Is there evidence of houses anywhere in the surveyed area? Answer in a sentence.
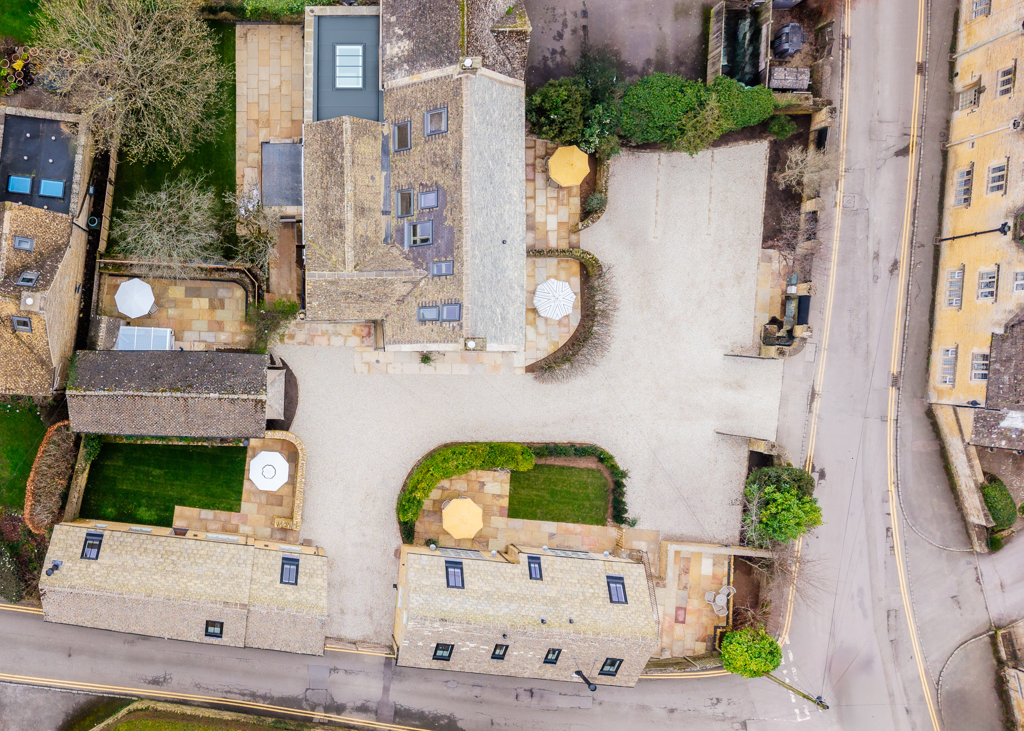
Yes, a house appears in the view.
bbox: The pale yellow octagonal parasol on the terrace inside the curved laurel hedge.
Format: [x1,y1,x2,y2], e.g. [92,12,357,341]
[443,499,481,537]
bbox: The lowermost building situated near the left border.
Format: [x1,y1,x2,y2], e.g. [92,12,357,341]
[39,519,328,658]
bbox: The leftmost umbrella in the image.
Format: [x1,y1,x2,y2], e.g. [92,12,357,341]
[115,278,155,318]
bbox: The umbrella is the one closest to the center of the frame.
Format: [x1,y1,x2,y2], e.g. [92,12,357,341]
[533,279,575,320]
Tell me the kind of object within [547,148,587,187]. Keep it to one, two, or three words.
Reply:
umbrella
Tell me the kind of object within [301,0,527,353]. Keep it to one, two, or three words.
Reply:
house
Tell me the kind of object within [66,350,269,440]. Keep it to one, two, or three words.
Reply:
barn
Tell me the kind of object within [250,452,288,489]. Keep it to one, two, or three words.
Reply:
umbrella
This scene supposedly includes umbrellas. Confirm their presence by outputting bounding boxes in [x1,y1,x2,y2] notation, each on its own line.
[533,279,575,320]
[443,499,481,537]
[250,452,288,489]
[547,148,587,187]
[115,278,155,318]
